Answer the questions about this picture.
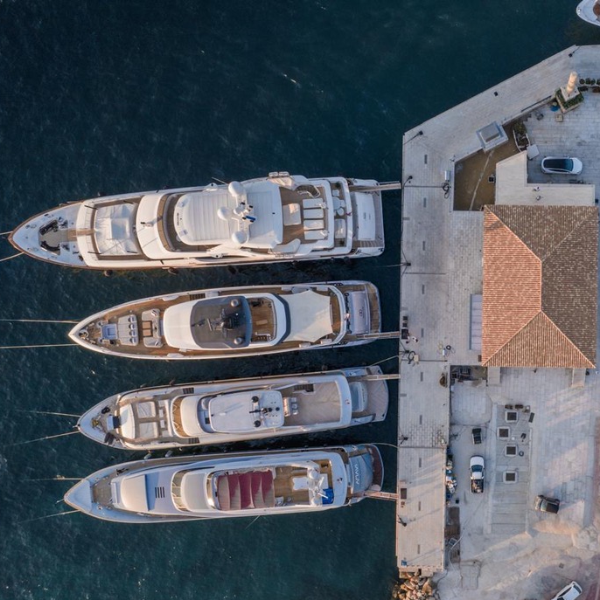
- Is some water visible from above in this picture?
Yes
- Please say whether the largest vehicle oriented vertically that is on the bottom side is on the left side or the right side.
right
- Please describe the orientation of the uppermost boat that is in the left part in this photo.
from left to right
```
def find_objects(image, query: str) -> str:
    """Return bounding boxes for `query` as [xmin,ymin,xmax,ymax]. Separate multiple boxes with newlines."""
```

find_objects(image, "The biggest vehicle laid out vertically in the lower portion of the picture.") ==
[467,456,486,496]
